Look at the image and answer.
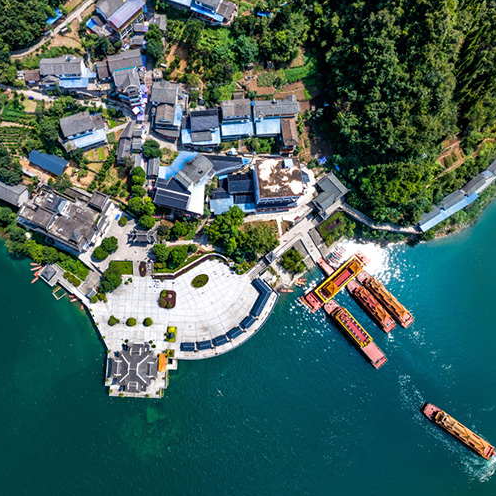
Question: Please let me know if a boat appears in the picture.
Yes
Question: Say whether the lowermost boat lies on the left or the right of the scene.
right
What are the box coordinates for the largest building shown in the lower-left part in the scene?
[105,341,164,395]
